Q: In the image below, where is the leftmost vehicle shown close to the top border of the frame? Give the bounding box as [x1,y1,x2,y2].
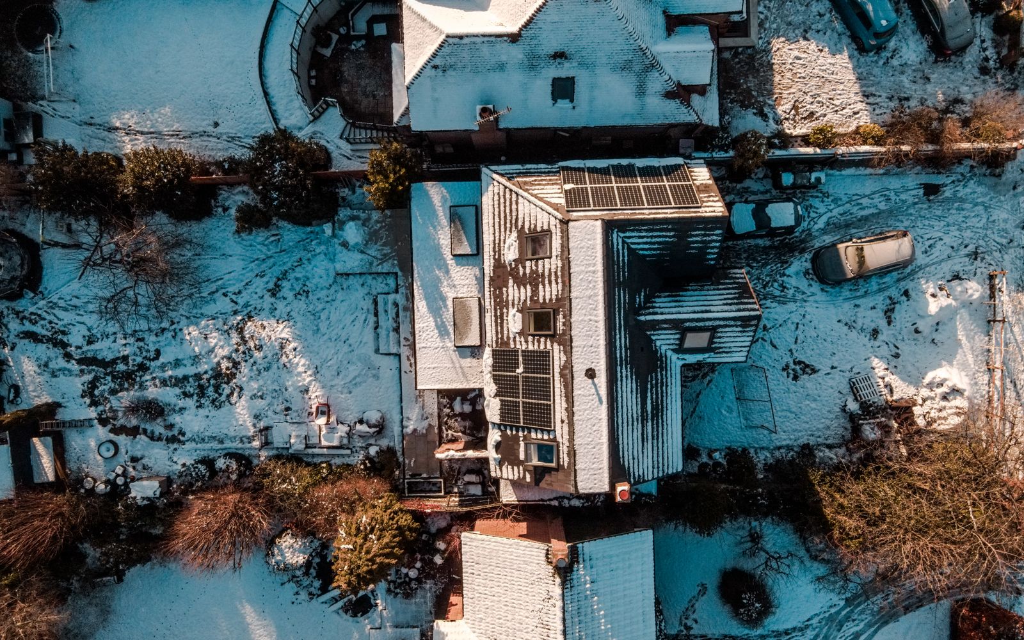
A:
[822,0,903,57]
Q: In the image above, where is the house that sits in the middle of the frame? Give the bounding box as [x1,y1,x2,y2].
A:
[408,158,766,507]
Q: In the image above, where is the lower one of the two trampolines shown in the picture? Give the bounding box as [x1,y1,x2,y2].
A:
[0,226,47,301]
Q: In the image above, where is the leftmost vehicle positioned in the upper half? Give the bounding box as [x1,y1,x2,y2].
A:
[726,194,810,241]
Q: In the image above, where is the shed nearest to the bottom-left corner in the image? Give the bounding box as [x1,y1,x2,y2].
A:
[0,425,42,501]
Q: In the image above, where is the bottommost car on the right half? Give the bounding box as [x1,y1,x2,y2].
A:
[808,230,918,285]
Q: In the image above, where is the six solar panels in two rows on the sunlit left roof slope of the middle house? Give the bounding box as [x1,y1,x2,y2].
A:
[488,348,550,430]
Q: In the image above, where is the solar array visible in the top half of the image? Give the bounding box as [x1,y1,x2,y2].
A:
[560,161,704,208]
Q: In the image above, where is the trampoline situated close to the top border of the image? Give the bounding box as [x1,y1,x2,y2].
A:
[14,4,70,58]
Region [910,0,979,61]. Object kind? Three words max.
car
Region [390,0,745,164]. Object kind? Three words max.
house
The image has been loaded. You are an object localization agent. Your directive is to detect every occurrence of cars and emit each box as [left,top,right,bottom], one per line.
[726,194,810,241]
[822,0,903,57]
[808,230,918,285]
[910,0,979,61]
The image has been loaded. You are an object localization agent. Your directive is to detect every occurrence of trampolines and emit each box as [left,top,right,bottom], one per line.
[0,226,47,301]
[14,4,70,58]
